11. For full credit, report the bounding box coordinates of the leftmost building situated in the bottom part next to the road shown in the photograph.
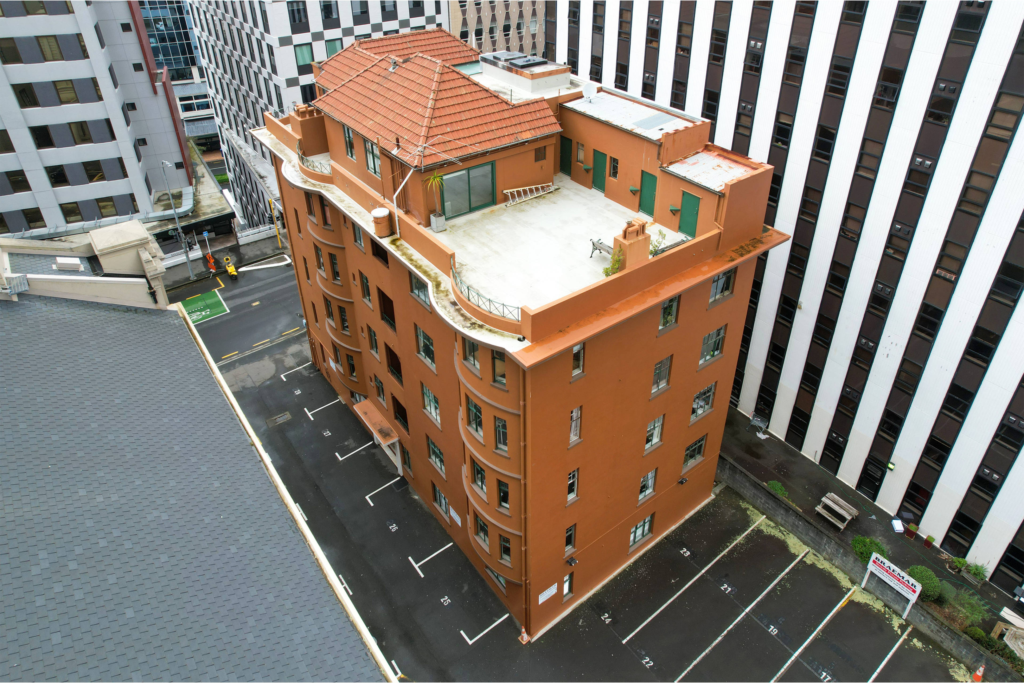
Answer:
[0,219,392,683]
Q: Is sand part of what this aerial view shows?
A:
No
